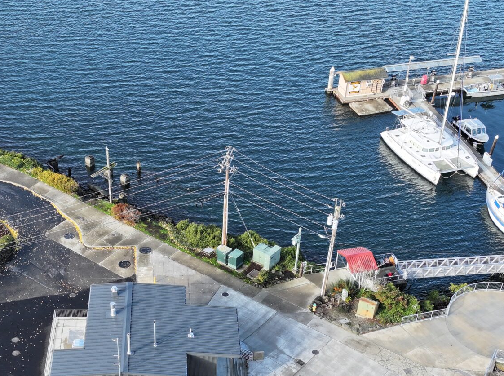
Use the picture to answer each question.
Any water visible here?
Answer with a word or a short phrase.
Yes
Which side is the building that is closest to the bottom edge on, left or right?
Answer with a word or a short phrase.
left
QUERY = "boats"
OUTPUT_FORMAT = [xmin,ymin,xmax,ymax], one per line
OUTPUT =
[462,64,504,100]
[485,167,504,230]
[447,118,488,147]
[376,0,475,186]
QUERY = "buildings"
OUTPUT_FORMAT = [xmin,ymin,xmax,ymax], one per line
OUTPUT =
[336,61,387,98]
[51,281,241,376]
